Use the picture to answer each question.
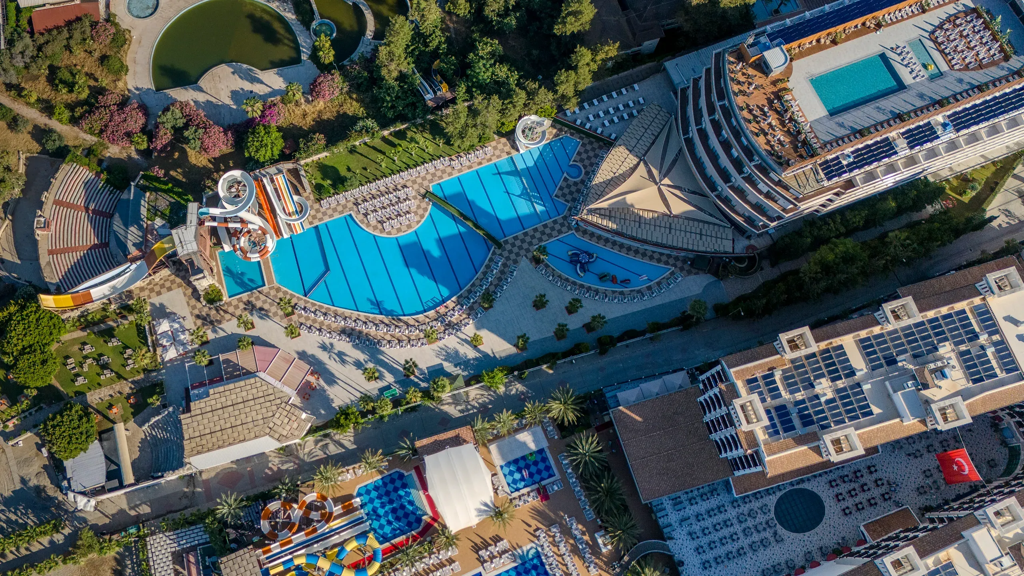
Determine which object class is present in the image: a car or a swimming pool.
swimming pool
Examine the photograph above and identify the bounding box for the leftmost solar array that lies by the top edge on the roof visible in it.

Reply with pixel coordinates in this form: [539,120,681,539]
[771,0,904,47]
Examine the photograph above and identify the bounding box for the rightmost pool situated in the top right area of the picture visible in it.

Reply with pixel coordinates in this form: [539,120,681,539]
[907,38,943,80]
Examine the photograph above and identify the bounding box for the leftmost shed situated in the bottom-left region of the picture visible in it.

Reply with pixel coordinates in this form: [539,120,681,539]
[64,440,112,492]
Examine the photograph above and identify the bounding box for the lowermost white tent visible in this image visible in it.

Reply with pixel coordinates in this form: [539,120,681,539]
[424,442,496,532]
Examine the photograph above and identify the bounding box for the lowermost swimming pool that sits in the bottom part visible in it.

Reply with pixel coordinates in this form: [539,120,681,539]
[473,551,555,576]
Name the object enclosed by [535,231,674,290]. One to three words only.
swimming pool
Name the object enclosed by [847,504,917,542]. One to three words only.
building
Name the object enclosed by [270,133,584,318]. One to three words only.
swimming pool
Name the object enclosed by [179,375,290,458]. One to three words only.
building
